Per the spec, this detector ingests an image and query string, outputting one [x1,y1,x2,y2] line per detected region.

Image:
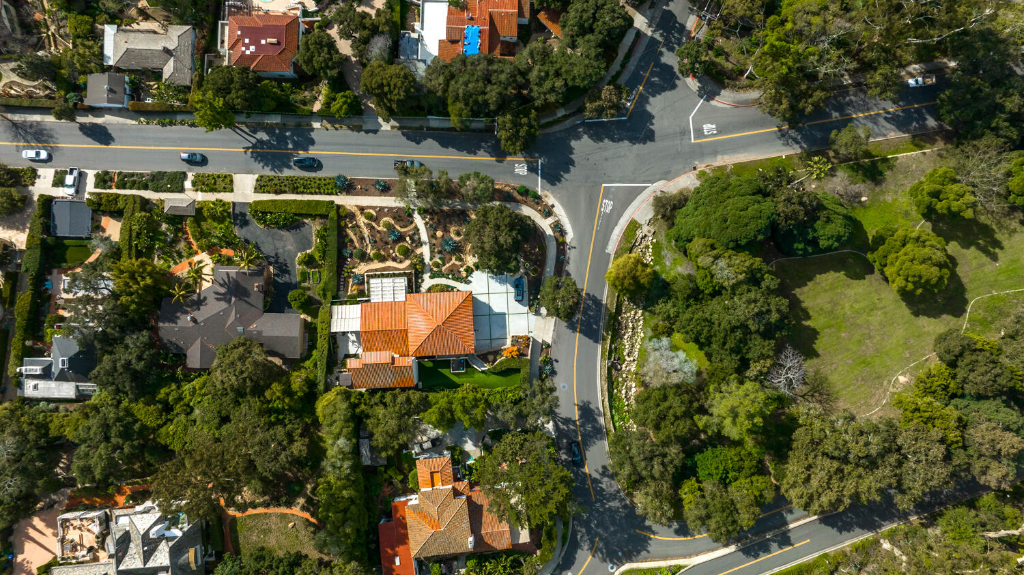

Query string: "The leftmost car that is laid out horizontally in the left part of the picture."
[23,149,51,161]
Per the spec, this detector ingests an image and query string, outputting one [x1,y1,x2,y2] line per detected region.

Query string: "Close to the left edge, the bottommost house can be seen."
[51,505,214,575]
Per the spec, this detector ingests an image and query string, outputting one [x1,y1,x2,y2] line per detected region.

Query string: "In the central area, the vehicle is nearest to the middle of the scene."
[513,278,525,302]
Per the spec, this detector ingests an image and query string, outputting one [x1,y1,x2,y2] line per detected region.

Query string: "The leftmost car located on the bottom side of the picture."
[411,439,437,454]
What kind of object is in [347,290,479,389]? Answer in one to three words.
house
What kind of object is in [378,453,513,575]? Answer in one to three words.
house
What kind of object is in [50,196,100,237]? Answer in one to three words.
building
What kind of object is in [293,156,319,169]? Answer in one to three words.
vehicle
